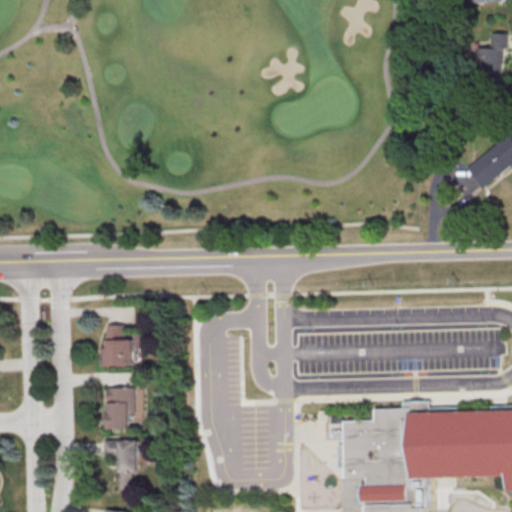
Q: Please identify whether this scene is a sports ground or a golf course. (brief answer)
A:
golf course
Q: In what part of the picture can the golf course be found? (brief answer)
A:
top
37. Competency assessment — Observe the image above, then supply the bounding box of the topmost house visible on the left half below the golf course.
[102,325,142,366]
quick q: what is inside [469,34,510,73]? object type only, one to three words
house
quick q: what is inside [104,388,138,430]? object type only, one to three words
house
